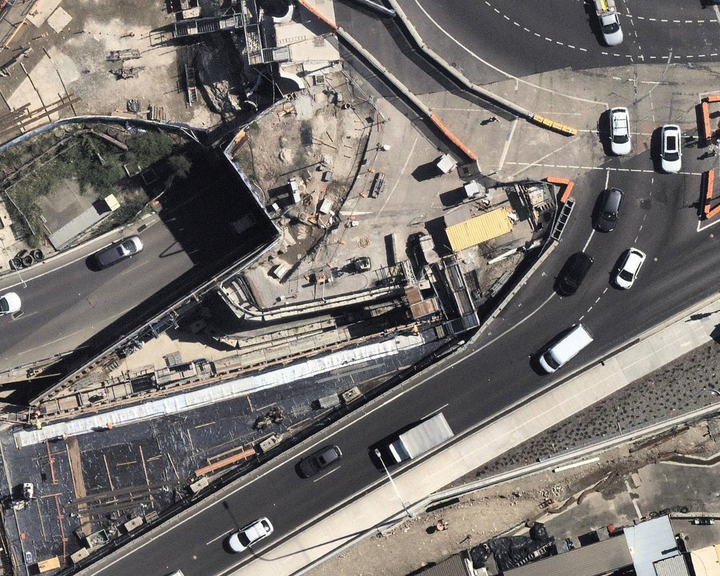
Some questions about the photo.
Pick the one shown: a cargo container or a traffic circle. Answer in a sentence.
I can see a cargo container in this picture.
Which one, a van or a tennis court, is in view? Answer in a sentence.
The image shows a van.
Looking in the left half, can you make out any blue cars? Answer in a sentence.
No, no blue car is visible in the left half.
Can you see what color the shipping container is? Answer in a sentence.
From above, the shipping container appears yellow.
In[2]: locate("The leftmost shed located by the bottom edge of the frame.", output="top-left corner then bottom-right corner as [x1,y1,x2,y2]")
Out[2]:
[419,551,475,576]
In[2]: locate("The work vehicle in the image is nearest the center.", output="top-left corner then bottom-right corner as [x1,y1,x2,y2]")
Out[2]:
[341,253,375,274]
